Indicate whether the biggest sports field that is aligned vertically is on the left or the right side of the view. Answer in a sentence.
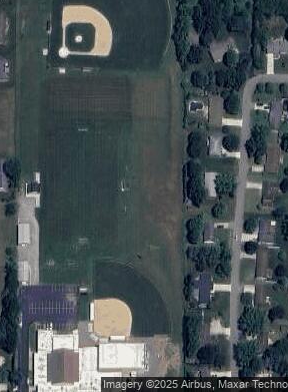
You can find the biggest sports field that is aligned vertically on the left side of the picture.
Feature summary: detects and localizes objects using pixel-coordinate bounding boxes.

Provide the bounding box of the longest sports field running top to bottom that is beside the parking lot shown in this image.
[40,75,136,291]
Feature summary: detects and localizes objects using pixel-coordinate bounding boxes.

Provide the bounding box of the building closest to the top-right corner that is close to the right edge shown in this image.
[267,38,288,59]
